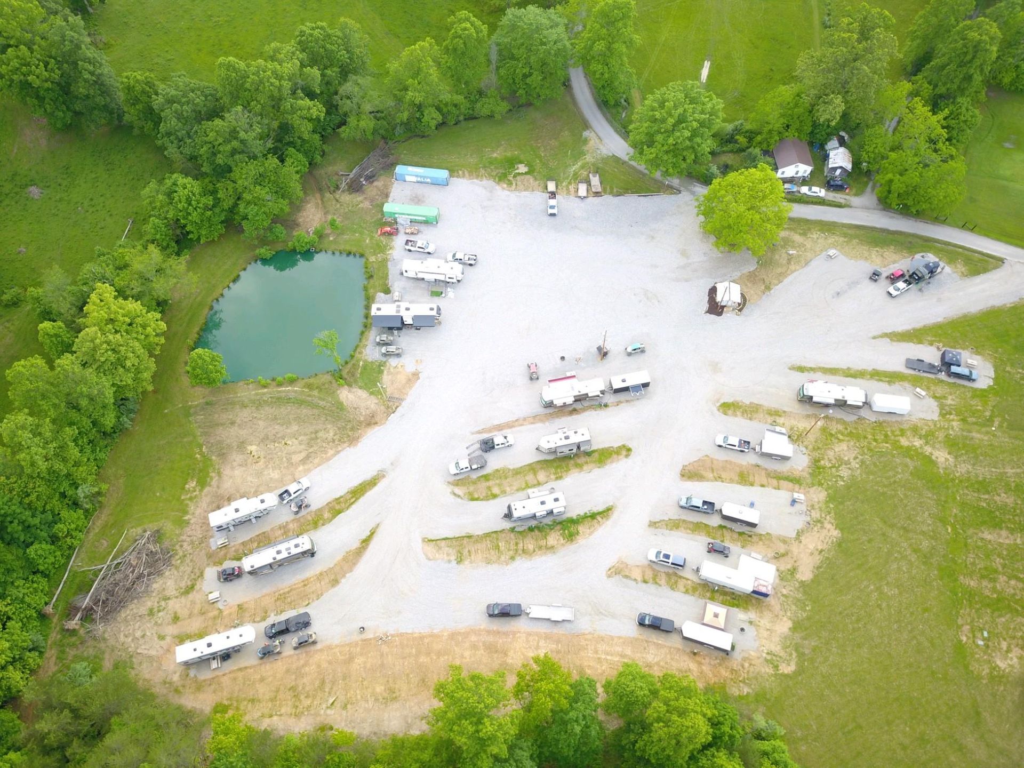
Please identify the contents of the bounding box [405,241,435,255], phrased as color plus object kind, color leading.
white vehicle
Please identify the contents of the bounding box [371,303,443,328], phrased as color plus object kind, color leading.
white camper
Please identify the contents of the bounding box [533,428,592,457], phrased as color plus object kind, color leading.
white trailer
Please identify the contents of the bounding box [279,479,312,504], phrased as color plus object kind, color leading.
white truck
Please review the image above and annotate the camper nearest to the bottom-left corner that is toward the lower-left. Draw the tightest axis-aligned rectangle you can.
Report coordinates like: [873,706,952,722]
[175,626,259,667]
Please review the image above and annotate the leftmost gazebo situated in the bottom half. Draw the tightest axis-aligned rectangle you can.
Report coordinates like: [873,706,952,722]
[703,603,727,631]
